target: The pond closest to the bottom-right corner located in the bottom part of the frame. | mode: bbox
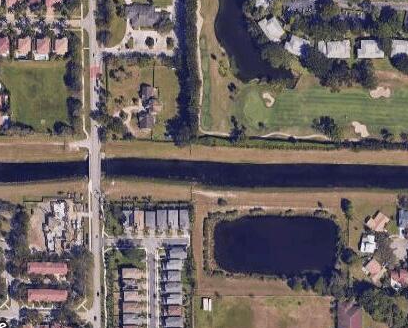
[215,216,338,274]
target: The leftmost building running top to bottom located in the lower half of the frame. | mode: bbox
[47,202,66,250]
